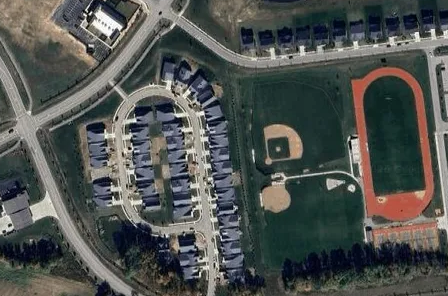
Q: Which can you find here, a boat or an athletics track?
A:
athletics track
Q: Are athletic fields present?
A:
Yes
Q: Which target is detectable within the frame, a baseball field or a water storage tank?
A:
baseball field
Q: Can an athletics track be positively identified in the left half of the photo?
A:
No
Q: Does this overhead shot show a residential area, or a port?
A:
residential area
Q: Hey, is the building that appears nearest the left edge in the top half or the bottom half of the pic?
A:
bottom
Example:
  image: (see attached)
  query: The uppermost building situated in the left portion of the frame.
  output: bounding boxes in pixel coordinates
[90,0,136,38]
